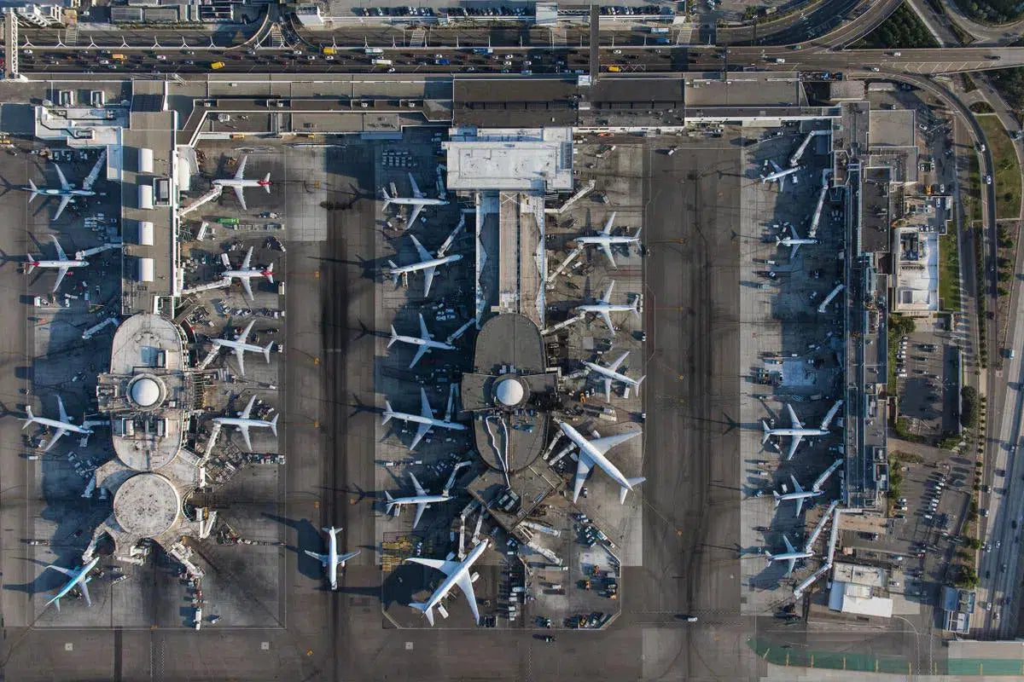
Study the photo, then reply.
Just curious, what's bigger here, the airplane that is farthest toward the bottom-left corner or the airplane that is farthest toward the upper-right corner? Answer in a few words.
the airplane that is farthest toward the bottom-left corner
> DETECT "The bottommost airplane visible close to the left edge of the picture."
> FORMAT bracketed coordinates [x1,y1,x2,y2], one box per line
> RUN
[38,557,100,613]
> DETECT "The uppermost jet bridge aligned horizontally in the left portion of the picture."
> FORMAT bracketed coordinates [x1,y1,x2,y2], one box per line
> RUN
[71,243,121,260]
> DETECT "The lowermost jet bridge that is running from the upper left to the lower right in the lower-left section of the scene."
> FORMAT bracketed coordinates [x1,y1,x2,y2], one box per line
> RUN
[169,548,209,583]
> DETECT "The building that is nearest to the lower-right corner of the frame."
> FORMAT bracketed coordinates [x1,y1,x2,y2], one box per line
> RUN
[937,584,976,634]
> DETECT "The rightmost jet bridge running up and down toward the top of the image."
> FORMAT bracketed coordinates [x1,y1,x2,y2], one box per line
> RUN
[806,168,832,242]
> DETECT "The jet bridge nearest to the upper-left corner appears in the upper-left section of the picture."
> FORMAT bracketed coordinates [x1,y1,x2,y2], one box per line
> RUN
[80,148,106,195]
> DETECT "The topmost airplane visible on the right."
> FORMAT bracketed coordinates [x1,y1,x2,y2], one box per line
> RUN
[759,157,804,192]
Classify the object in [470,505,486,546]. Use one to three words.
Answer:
jet bridge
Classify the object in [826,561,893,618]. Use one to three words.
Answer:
building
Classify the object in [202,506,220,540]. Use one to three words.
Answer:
jet bridge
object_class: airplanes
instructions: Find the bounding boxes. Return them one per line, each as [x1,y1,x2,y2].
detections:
[574,211,640,268]
[26,162,96,222]
[38,557,100,613]
[222,246,276,301]
[584,349,645,401]
[560,423,647,505]
[23,233,89,293]
[389,313,456,369]
[383,173,449,229]
[385,473,453,529]
[385,234,463,296]
[759,157,804,192]
[776,224,821,260]
[213,155,274,210]
[306,523,361,590]
[764,404,830,461]
[408,539,488,627]
[21,395,94,453]
[575,281,639,336]
[379,389,466,451]
[213,393,278,452]
[764,535,802,579]
[774,473,824,519]
[211,318,273,375]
